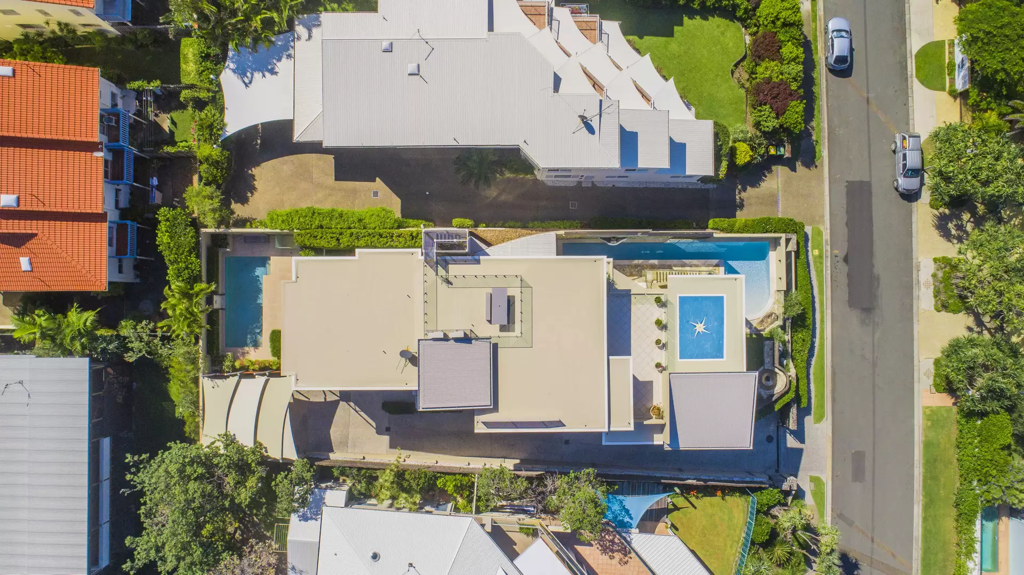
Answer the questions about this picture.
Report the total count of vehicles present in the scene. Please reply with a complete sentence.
Altogether the scene contains 2 vehicles.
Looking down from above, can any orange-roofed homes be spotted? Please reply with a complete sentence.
Yes, an orange-roofed home appears in the view.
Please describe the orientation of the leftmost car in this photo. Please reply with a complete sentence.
The leftmost car is oriented vertically.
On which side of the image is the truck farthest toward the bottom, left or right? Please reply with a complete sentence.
The truck farthest toward the bottom is on the right side of the image.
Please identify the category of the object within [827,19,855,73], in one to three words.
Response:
car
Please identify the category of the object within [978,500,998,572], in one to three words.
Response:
swimming pool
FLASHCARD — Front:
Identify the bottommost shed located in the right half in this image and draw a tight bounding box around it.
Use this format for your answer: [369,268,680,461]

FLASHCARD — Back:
[621,525,714,575]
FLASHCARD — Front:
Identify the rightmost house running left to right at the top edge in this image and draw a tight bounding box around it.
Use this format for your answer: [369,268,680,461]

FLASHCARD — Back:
[293,0,714,180]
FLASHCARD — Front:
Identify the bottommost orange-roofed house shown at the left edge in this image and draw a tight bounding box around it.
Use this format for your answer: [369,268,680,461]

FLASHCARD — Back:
[0,213,153,291]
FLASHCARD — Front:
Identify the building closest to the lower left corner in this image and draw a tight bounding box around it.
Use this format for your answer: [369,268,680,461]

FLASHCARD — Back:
[0,352,126,575]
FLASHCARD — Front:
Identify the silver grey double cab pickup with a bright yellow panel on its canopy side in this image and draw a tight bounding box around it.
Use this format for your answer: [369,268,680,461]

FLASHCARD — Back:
[893,129,926,194]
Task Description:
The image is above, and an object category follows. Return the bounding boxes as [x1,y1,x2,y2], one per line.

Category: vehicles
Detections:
[893,129,926,194]
[827,19,855,73]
